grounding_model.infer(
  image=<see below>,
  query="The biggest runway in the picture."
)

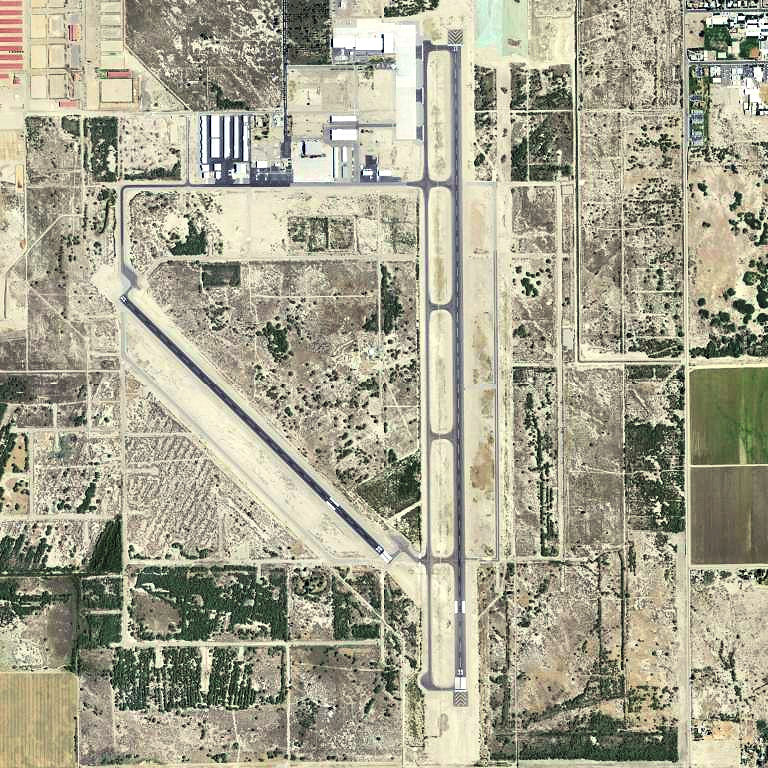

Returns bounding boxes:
[449,44,466,692]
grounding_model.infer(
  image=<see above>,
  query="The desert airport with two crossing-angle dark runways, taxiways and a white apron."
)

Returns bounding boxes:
[118,19,468,706]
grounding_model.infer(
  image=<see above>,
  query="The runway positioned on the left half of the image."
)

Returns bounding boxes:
[118,292,393,564]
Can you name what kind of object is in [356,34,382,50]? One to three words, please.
hangar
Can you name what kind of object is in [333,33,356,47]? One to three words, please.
hangar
